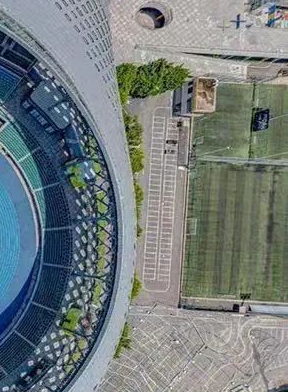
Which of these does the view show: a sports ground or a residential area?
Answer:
sports ground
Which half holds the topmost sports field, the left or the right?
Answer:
right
